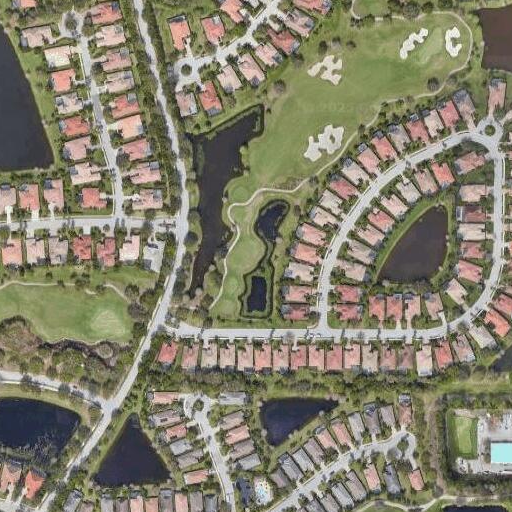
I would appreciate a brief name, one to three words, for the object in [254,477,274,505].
swimming pool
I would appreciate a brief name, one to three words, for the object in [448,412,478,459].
sports field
